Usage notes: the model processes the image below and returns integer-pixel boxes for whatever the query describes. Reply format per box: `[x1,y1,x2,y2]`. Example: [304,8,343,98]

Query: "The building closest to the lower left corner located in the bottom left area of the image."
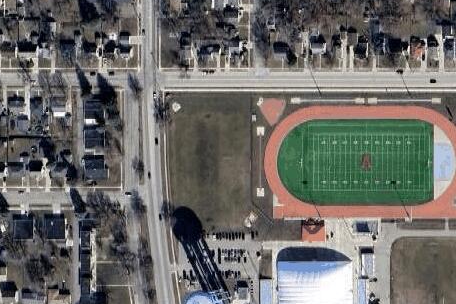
[0,285,19,303]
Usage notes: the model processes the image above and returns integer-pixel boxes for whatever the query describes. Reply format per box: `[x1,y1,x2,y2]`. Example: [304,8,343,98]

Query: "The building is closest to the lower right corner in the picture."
[360,253,373,278]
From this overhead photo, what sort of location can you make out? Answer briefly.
sports ground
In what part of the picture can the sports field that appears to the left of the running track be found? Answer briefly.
center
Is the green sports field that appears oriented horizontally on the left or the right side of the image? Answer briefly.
right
